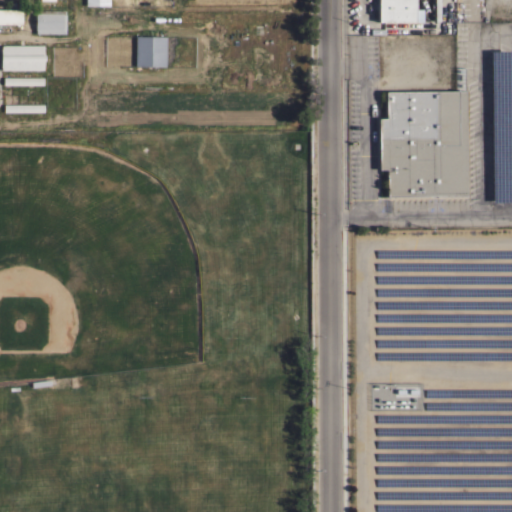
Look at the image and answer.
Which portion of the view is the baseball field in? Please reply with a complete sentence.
The baseball field is in the left part of the image.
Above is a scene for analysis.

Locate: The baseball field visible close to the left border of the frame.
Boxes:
[0,142,202,384]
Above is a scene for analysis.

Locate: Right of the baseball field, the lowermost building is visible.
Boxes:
[381,92,468,196]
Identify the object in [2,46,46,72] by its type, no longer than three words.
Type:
barn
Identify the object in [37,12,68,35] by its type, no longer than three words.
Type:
shed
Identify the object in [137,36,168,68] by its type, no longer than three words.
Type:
barn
